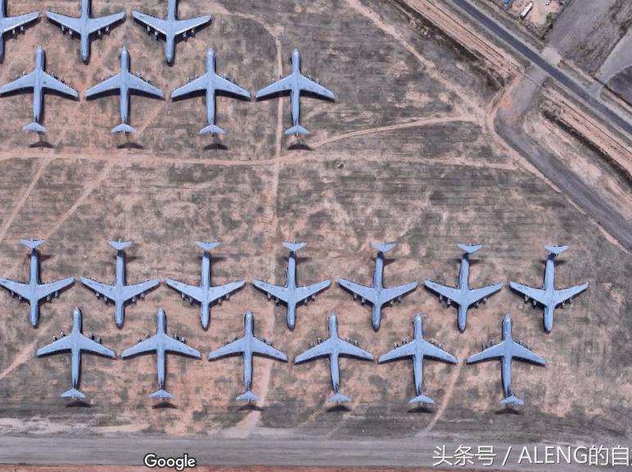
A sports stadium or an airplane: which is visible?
airplane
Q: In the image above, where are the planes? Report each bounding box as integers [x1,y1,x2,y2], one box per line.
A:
[209,310,287,403]
[256,48,335,136]
[171,48,250,135]
[37,307,116,400]
[510,243,588,333]
[48,0,125,64]
[252,240,330,331]
[424,242,502,332]
[166,240,245,329]
[86,46,164,134]
[0,45,77,134]
[123,308,200,401]
[295,311,374,404]
[133,0,212,65]
[378,312,456,405]
[467,314,545,407]
[82,239,159,328]
[0,238,74,328]
[339,241,417,332]
[0,0,40,62]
